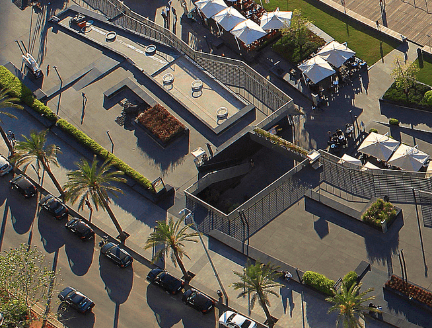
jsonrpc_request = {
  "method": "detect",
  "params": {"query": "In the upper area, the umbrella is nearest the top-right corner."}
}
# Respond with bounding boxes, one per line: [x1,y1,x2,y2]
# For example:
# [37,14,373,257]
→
[317,39,353,65]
